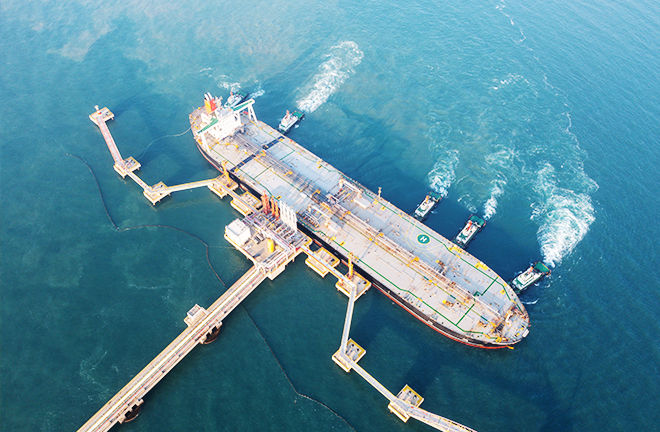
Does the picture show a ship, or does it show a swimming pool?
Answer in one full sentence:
There is a ship in the scene.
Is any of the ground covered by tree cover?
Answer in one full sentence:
No, the picture contains no tree cover.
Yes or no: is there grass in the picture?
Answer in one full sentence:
No, there is no grass in the image.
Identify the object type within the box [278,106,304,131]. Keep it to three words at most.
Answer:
boat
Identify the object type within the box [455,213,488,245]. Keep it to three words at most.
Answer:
boat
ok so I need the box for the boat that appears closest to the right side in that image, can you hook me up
[515,261,557,292]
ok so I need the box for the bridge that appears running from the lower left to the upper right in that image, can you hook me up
[68,265,269,432]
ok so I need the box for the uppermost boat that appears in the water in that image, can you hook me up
[227,86,253,107]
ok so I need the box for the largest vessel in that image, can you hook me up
[186,90,532,346]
